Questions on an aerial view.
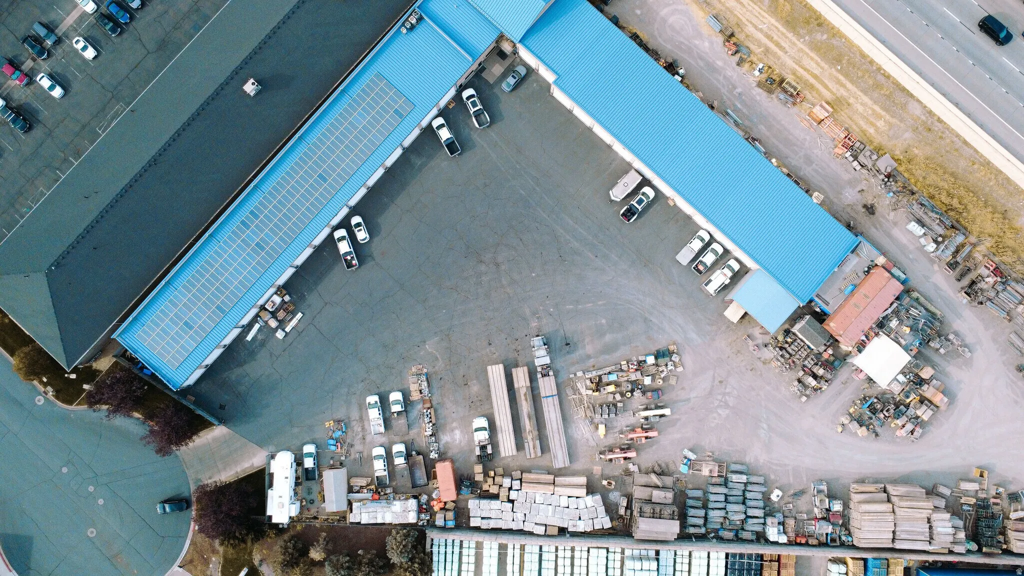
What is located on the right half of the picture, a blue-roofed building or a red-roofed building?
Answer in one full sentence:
It is a blue-roofed building that can be seen on the right half of the picture.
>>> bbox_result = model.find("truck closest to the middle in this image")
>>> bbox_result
[531,334,554,392]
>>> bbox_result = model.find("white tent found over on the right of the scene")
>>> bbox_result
[847,331,910,388]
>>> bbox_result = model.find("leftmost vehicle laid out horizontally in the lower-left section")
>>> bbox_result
[157,497,190,513]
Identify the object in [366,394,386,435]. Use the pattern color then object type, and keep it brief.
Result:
white vehicle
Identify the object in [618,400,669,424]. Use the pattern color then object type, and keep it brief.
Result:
white work vehicle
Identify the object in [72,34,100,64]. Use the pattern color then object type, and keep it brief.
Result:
white car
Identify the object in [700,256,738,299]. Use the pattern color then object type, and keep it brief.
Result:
white truck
